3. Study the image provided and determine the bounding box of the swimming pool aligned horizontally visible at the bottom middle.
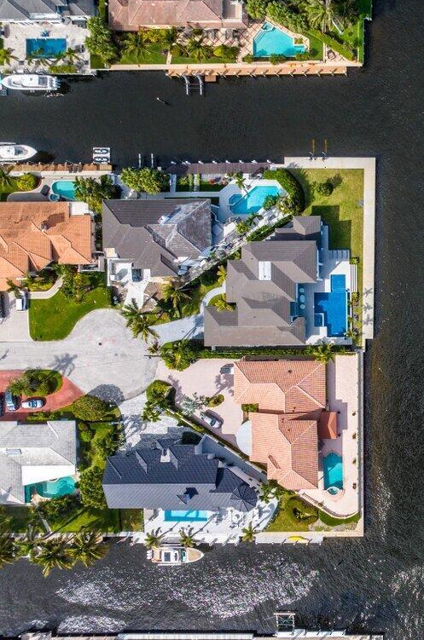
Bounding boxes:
[163,509,210,524]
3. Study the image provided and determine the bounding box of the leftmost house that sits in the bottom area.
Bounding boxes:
[0,421,84,505]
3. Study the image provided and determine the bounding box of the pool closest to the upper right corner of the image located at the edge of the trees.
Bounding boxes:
[251,19,306,59]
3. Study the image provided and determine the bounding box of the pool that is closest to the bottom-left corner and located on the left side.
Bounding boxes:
[26,477,76,502]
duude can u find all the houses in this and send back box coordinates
[233,361,328,489]
[0,0,102,26]
[0,421,84,505]
[97,436,254,509]
[0,201,99,291]
[205,216,327,346]
[109,0,250,35]
[102,198,218,277]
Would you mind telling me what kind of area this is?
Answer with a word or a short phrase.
residential area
